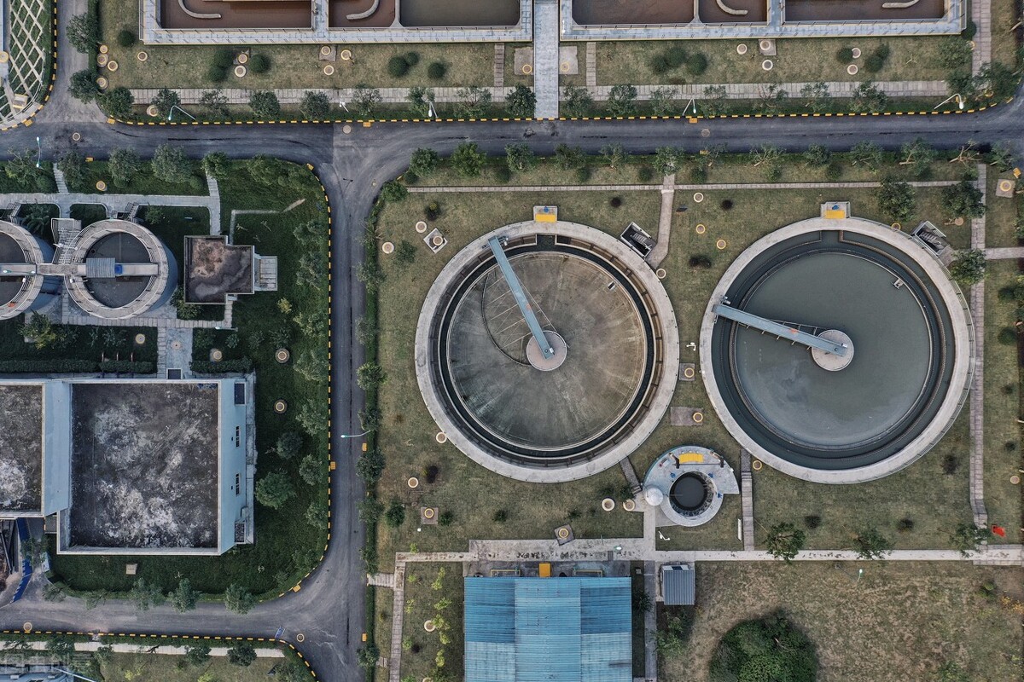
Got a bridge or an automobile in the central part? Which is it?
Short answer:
bridge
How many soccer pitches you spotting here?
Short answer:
0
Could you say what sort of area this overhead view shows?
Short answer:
industrial area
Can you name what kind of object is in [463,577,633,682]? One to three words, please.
shed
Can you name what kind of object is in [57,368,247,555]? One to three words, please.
building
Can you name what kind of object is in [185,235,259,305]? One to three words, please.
building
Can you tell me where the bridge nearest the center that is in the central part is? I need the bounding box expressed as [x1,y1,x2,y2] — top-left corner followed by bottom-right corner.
[484,235,552,357]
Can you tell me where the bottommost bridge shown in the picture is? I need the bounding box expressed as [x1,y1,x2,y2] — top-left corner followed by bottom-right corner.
[709,298,848,356]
